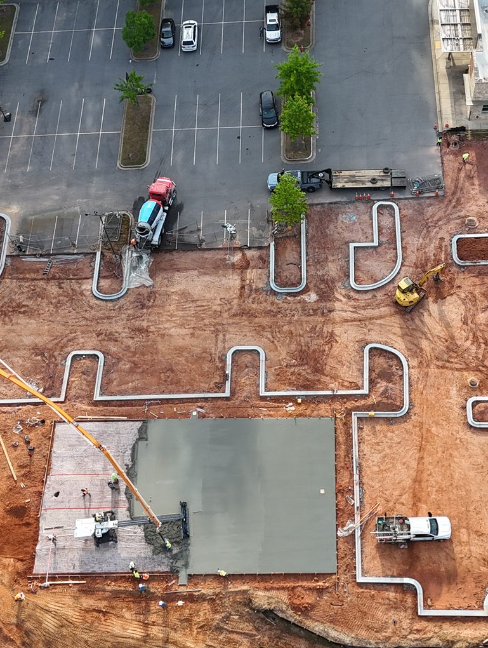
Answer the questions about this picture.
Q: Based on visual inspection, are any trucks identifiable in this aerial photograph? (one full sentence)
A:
Yes, this view includes a truck.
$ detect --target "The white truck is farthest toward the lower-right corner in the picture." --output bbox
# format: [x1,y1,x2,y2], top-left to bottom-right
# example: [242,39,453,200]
[374,513,451,544]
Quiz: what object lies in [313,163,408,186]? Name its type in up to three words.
trailer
